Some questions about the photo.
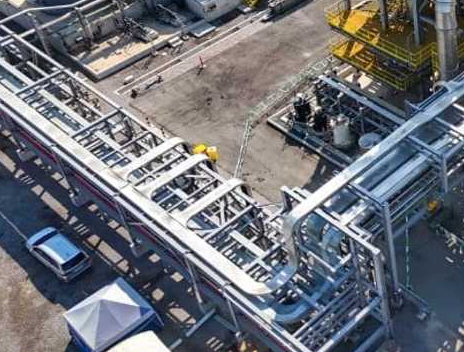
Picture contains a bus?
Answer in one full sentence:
No, the picture doesn't show any bus.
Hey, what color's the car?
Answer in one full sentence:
The color of the car is blue.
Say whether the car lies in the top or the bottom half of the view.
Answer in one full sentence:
The car is in the bottom half of the image.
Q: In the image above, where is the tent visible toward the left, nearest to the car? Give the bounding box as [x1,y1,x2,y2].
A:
[61,279,166,352]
